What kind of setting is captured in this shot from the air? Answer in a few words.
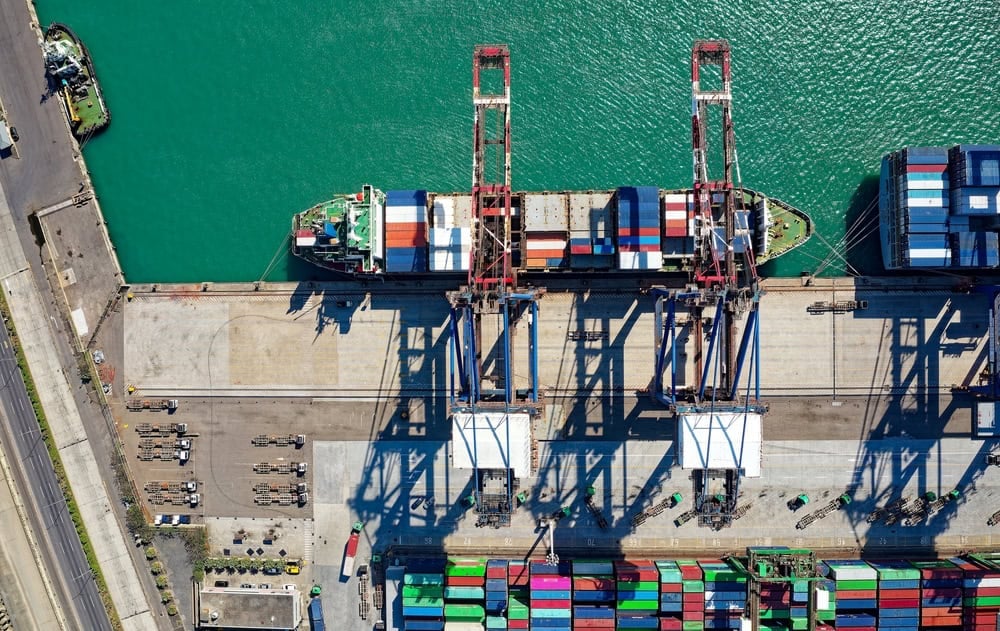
port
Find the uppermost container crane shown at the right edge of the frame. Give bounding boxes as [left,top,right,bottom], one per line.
[943,289,1000,437]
